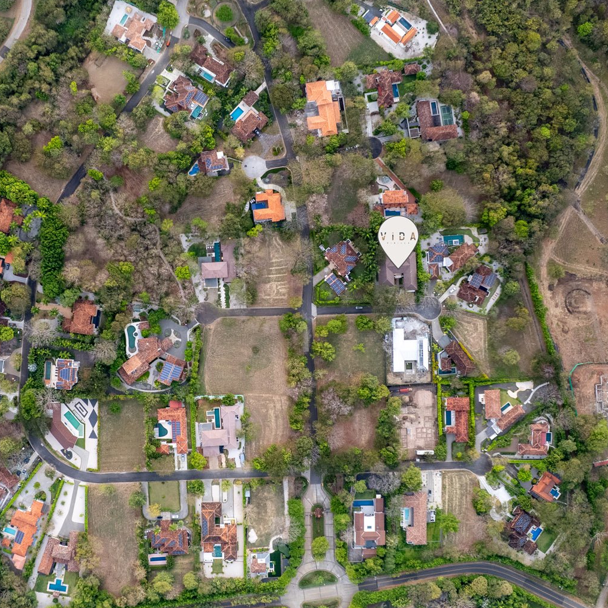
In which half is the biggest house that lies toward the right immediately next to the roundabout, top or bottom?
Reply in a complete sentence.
It is in the bottom half that the biggest house that lies toward the right immediately next to the roundabout appears.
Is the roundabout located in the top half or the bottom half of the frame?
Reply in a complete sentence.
The roundabout sits in the bottom half of the picture.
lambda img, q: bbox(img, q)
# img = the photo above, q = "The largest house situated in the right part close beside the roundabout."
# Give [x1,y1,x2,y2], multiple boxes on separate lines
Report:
[347,498,385,562]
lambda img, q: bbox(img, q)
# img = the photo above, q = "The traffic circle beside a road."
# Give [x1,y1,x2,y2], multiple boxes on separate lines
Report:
[282,559,360,608]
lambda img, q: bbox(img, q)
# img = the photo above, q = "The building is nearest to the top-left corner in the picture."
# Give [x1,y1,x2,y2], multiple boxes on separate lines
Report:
[110,12,155,52]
